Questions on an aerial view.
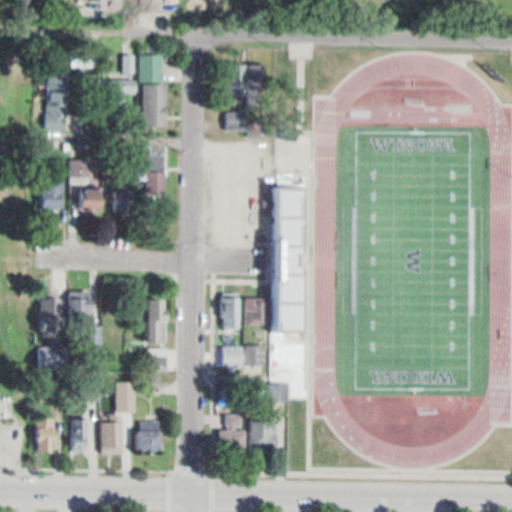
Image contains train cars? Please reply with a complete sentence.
No, the frame has no train car in it.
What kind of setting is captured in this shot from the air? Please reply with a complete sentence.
This image shows a sports ground.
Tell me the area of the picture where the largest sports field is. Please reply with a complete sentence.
The largest sports field appears toward the right of the photo.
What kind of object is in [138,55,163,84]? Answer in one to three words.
house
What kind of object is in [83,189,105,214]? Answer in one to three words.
house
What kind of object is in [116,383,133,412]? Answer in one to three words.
building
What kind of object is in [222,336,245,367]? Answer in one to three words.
building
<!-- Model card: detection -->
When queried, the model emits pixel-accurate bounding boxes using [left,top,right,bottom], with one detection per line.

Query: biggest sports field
[336,127,490,395]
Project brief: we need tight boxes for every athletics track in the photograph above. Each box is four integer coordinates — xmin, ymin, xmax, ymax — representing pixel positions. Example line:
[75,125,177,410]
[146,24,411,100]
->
[312,52,512,468]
